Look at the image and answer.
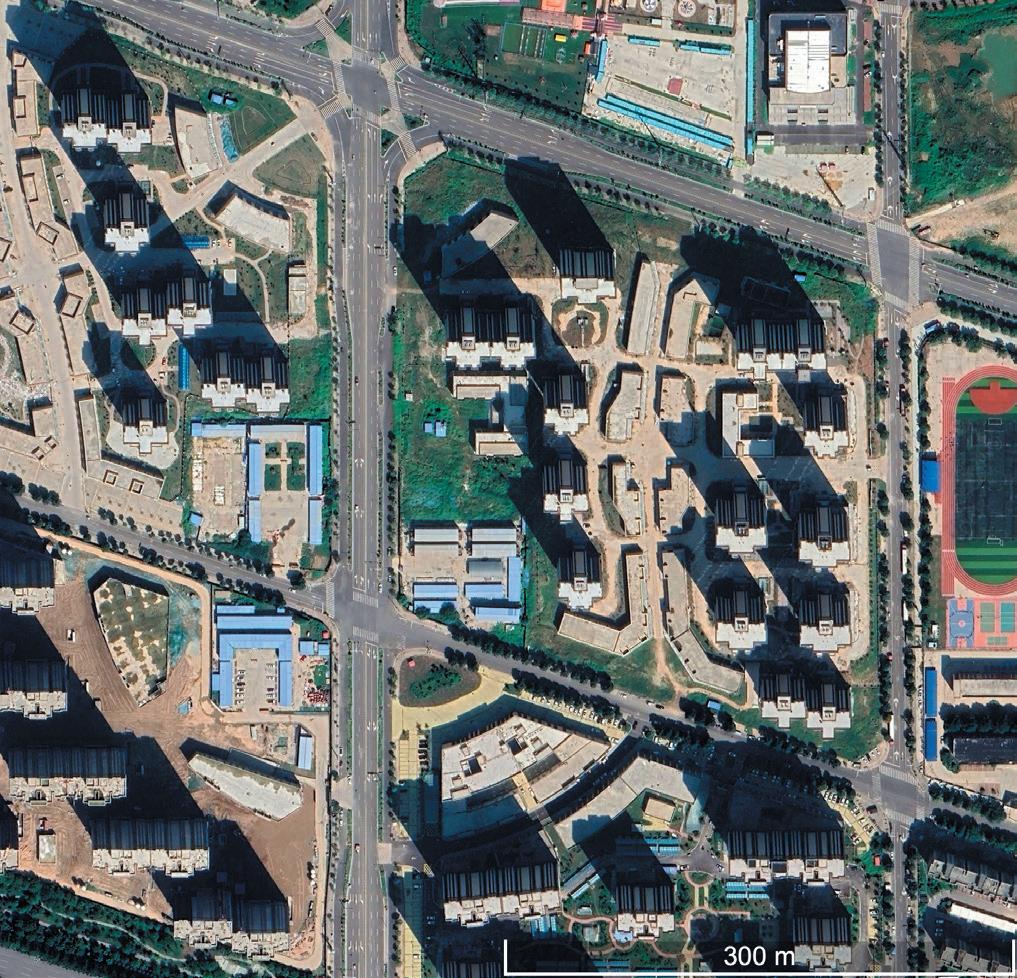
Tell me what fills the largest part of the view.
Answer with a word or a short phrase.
paved ground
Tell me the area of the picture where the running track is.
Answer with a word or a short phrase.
right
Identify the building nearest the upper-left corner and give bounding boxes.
[13,50,40,136]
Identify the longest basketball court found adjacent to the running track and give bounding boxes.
[949,600,972,647]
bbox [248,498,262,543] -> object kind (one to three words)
shed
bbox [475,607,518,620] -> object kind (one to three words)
shed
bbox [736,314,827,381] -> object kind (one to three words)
building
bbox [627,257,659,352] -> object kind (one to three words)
building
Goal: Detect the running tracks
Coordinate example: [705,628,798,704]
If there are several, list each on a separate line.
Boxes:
[943,364,1017,598]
